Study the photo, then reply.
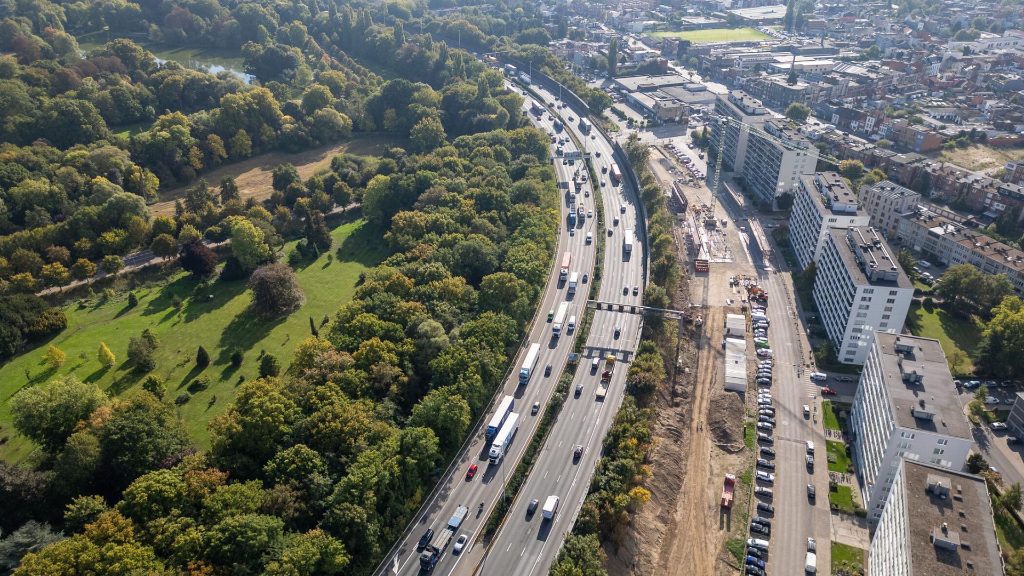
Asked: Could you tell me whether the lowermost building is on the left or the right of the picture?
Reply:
right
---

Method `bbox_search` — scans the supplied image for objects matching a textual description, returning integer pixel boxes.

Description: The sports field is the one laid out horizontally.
[656,28,773,43]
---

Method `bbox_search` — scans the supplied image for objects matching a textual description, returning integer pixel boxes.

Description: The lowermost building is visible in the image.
[870,455,1007,576]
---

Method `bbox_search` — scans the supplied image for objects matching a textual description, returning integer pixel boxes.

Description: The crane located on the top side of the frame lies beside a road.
[703,104,843,224]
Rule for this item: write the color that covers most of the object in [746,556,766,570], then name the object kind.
blue car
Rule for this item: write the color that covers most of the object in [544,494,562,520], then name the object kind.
white vehicle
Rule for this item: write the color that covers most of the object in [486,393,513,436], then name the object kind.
white truck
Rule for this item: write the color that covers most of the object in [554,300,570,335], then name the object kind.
white vehicle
